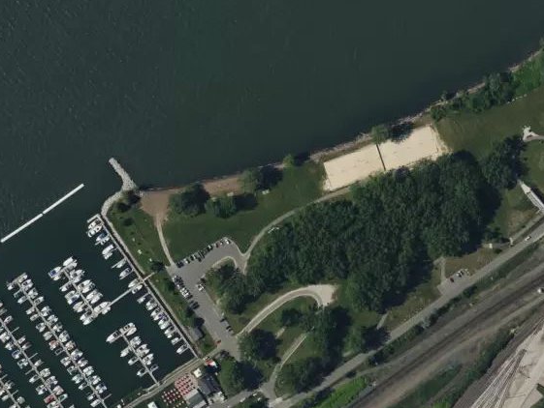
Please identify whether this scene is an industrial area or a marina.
marina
